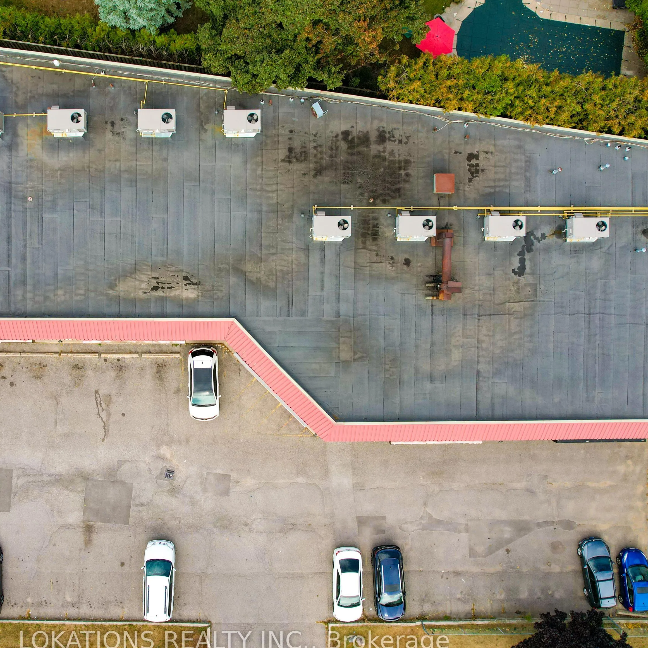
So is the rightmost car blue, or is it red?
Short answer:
blue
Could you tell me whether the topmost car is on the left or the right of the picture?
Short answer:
left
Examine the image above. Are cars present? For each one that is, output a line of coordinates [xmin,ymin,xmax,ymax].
[140,540,178,620]
[617,548,648,611]
[577,536,620,611]
[331,546,367,622]
[372,543,410,623]
[184,345,222,422]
